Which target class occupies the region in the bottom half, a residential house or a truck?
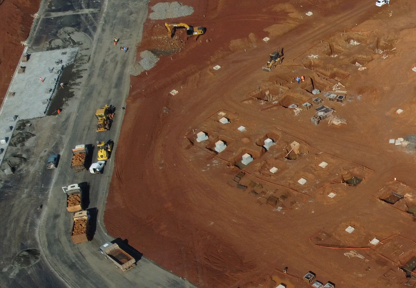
truck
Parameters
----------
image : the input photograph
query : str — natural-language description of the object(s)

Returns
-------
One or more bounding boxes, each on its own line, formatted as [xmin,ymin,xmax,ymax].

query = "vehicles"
[168,23,207,41]
[44,155,61,170]
[86,159,109,175]
[99,240,134,274]
[375,0,391,7]
[95,141,108,159]
[264,49,285,73]
[63,182,84,216]
[69,143,91,175]
[93,105,113,132]
[70,209,92,246]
